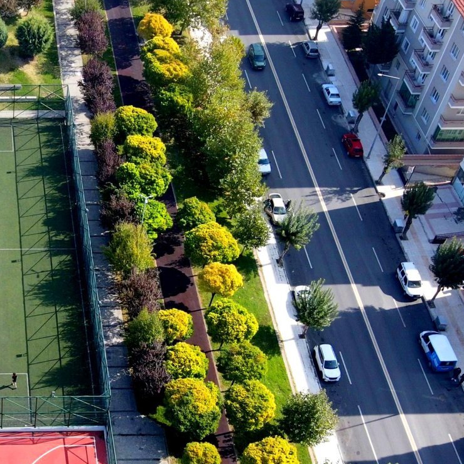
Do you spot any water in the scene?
No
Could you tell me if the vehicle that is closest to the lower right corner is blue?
Yes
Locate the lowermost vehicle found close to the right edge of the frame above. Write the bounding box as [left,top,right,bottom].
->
[420,330,462,376]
